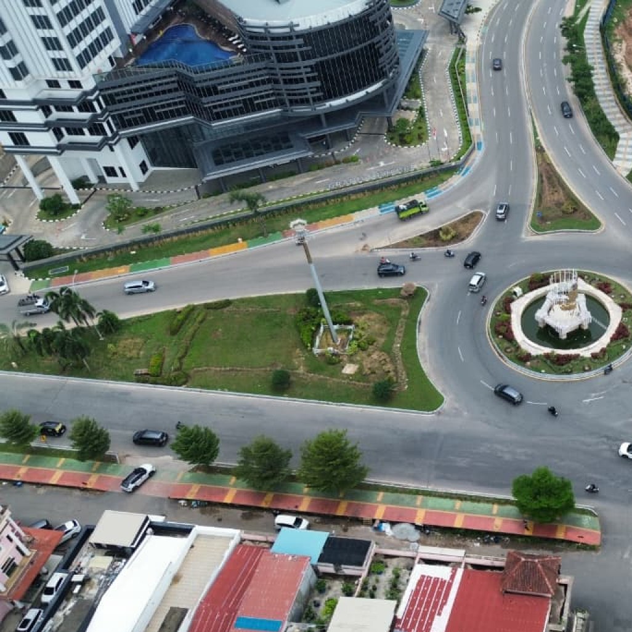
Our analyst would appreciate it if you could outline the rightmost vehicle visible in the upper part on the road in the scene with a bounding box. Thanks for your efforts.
[560,101,573,118]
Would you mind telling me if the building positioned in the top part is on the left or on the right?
left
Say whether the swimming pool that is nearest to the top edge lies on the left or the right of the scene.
left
